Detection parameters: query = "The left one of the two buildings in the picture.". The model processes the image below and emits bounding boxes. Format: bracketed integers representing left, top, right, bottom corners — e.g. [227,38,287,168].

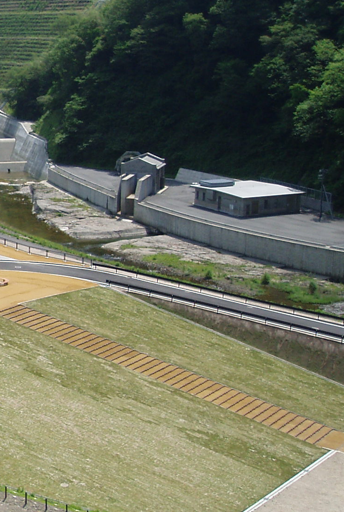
[107,152,170,229]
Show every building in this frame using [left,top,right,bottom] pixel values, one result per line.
[107,152,170,229]
[188,181,311,217]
